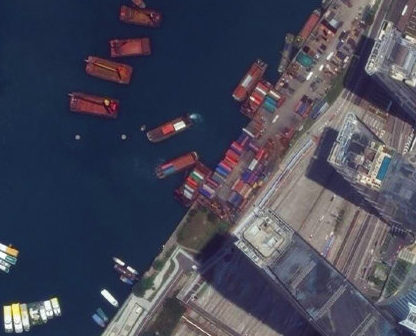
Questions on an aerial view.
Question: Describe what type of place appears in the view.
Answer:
port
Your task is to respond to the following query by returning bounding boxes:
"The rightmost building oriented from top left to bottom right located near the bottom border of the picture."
[238,212,400,336]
